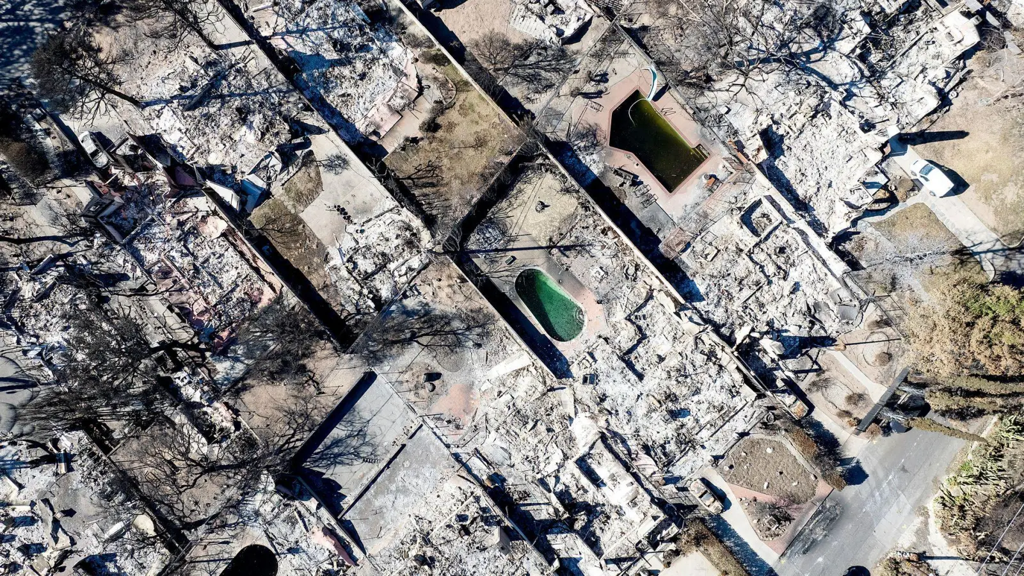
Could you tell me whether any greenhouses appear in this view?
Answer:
No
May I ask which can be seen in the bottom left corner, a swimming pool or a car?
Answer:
swimming pool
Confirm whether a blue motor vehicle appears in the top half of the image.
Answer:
No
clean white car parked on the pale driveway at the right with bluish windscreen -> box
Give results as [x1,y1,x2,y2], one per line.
[907,159,957,202]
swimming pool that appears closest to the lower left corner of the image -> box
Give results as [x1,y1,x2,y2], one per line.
[217,543,281,576]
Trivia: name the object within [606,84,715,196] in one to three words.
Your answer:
swimming pool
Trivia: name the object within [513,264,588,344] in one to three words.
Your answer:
swimming pool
